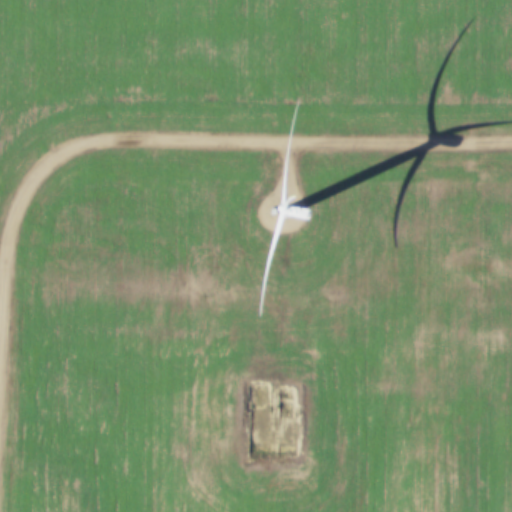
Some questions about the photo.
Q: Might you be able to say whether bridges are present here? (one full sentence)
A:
No, the scene contains no bridge.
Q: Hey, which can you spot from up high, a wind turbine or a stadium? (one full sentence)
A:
The image shows a wind turbine.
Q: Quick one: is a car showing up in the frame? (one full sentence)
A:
No, there appears to be no car in this shot.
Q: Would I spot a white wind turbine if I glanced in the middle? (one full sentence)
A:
Yes, you'll find a white wind turbine in the middle.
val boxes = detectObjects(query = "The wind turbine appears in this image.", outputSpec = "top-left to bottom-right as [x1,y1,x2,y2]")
[260,99,312,315]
